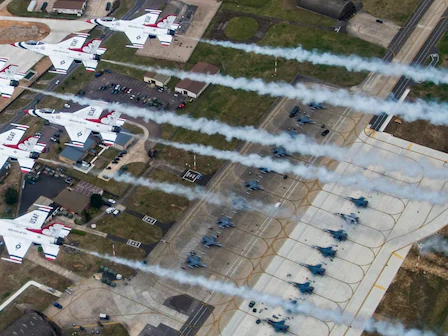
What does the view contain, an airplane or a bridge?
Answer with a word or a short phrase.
airplane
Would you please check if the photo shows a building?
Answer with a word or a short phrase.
Yes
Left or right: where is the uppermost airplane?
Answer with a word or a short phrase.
left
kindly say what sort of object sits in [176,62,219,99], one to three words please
barn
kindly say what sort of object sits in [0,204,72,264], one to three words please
airplane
